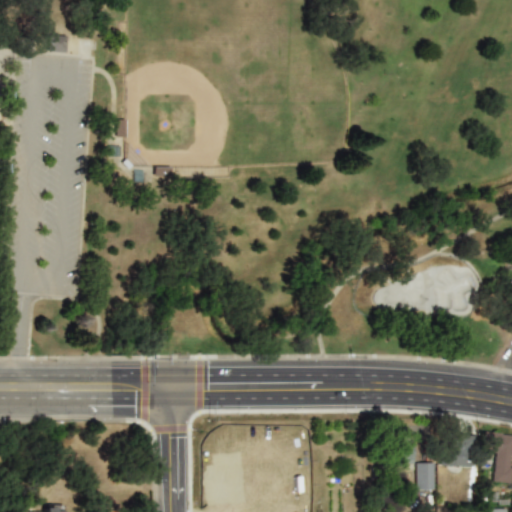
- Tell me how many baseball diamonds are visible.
1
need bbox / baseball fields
[128,62,228,166]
